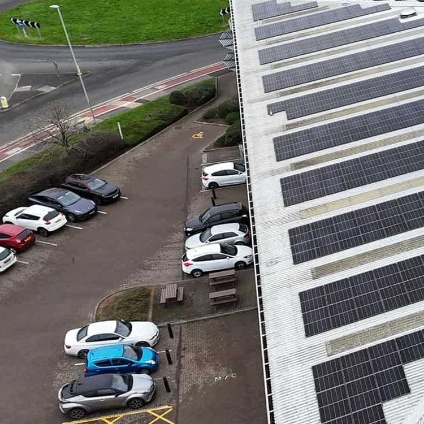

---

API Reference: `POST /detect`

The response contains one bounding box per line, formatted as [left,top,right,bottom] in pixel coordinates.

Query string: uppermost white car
[199,162,244,189]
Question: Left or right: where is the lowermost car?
left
